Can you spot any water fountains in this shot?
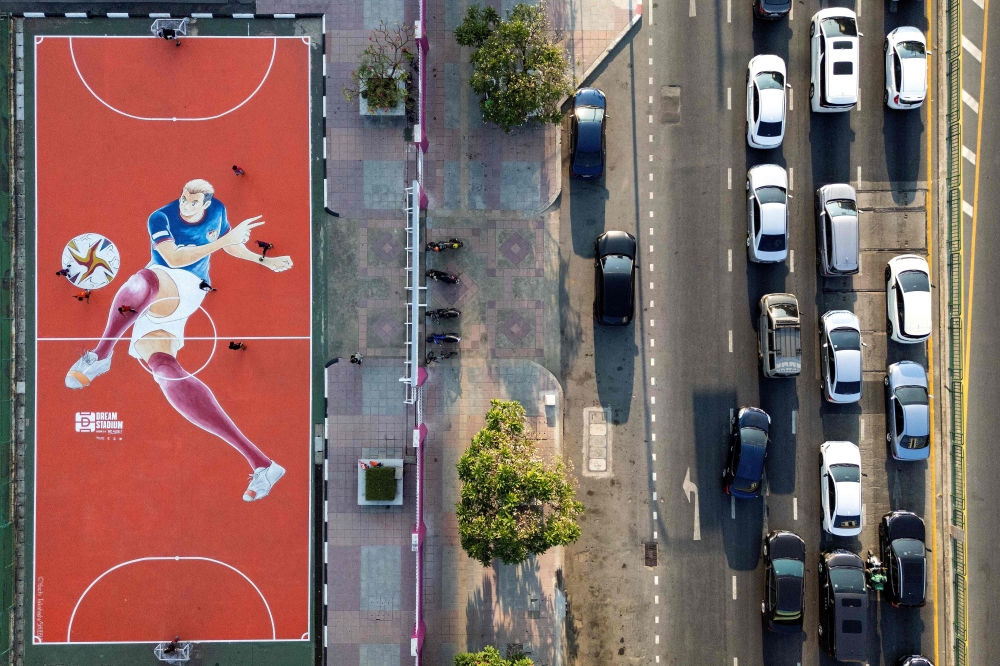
No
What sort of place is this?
sports ground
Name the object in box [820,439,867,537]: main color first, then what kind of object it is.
white car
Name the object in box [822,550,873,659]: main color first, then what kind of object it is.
black vehicle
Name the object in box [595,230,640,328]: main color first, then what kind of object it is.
black car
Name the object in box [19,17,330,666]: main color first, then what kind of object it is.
red sports court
